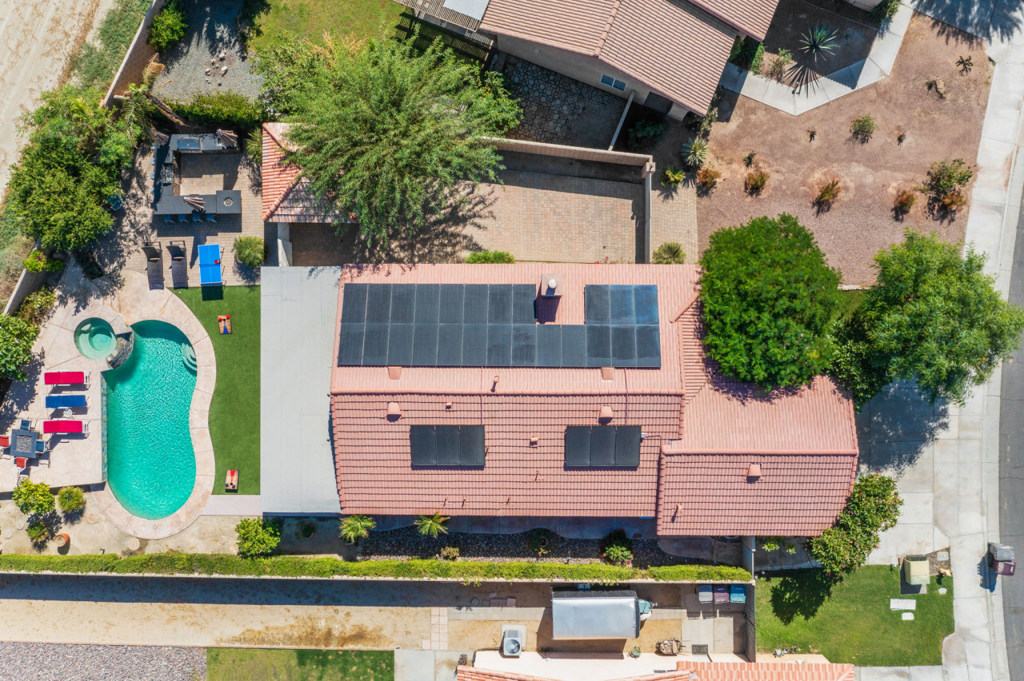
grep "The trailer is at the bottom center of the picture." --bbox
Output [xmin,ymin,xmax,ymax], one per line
[550,581,655,640]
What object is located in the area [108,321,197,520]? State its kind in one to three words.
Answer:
swimming pool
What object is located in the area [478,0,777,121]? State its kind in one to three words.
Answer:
house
